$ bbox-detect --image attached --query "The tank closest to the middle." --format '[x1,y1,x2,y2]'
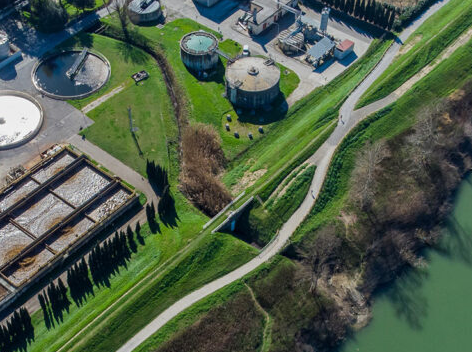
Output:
[224,55,281,114]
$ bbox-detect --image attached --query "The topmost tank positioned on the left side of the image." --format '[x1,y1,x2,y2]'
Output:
[127,0,162,29]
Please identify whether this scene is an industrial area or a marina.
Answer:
industrial area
